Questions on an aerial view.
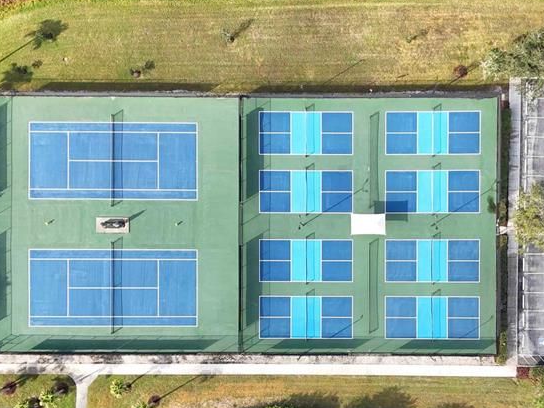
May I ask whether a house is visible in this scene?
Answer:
No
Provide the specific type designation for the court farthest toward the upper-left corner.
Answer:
tennis court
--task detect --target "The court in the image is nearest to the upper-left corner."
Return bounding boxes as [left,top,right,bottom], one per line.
[28,114,197,207]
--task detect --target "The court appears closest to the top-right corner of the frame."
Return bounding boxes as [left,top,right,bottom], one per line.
[386,107,480,158]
